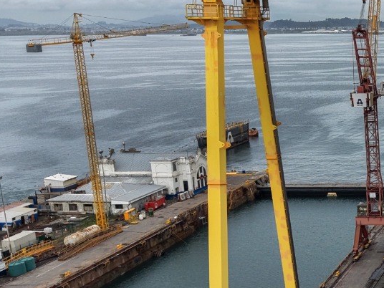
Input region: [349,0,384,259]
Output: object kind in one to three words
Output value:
crane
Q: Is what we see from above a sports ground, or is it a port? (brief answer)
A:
port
